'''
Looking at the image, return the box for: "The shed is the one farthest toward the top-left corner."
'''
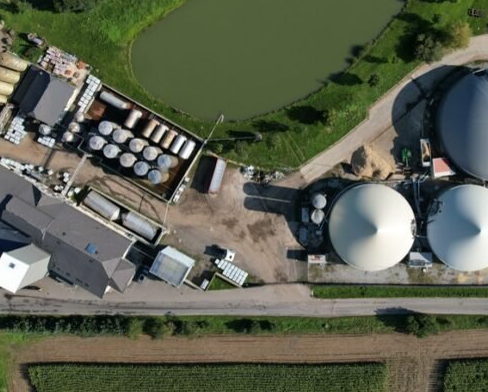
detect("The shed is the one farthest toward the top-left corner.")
[21,66,81,127]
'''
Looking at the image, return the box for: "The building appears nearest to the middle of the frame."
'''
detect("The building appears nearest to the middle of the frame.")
[150,245,194,287]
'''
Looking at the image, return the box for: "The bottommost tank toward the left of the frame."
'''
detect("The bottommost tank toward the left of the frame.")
[122,210,158,240]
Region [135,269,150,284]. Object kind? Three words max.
car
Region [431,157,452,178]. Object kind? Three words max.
shed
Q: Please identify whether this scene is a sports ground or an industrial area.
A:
industrial area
